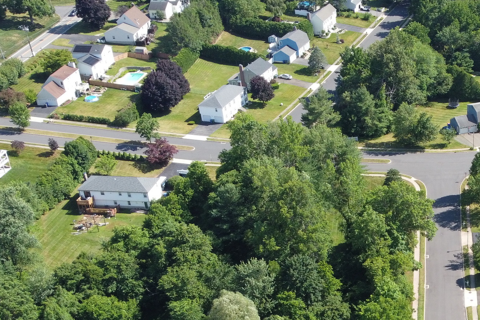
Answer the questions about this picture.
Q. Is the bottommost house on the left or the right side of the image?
left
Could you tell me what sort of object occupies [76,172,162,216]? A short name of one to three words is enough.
house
